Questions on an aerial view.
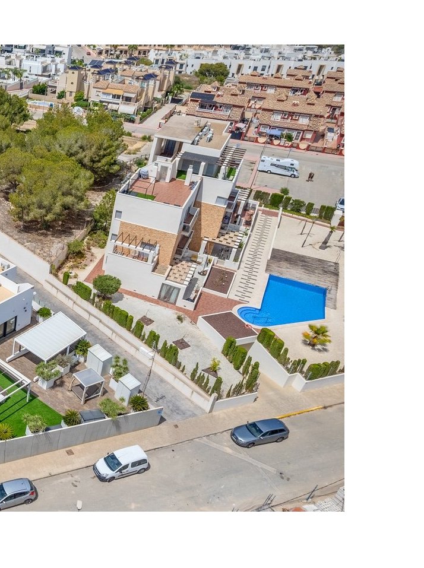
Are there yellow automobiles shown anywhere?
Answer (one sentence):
No, the scene contains no yellow automobile.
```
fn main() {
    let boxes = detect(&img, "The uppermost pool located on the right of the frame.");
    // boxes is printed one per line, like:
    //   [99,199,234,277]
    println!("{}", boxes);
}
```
[237,274,327,326]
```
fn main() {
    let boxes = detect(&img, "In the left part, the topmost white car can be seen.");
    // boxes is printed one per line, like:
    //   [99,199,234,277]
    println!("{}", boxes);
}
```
[95,443,154,480]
